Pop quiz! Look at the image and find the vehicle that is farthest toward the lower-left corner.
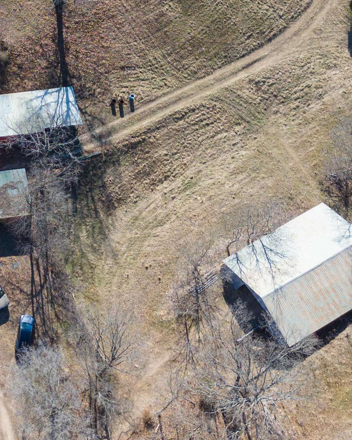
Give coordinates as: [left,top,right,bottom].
[11,314,33,357]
